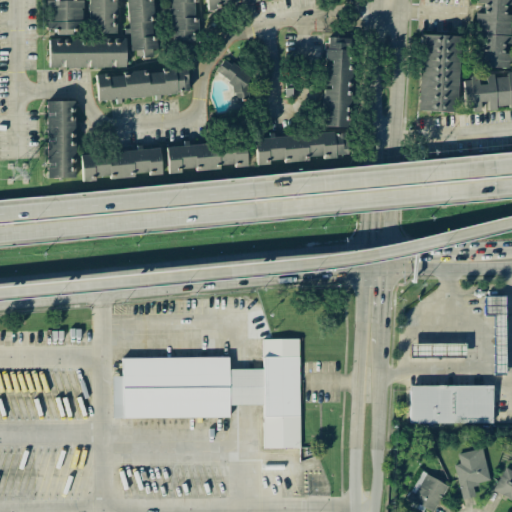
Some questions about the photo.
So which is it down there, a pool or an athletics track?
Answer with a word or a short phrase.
pool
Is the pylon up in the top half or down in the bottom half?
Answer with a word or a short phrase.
top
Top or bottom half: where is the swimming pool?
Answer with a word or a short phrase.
top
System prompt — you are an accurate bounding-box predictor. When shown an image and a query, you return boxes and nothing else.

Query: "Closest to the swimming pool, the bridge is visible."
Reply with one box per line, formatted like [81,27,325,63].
[0,152,512,248]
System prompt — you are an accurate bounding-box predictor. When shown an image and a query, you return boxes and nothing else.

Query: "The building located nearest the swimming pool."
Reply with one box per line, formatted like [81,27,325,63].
[218,59,250,98]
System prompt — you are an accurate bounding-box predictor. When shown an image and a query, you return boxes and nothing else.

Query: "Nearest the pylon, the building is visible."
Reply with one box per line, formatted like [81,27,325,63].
[47,101,77,179]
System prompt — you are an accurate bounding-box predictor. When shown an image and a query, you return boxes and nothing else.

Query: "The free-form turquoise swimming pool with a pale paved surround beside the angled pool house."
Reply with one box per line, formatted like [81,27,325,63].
[210,73,236,114]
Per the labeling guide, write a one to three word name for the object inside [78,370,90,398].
vehicle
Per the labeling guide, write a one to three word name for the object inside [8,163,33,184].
pylon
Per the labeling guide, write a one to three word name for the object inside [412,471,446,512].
house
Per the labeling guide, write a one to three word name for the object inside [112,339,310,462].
building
